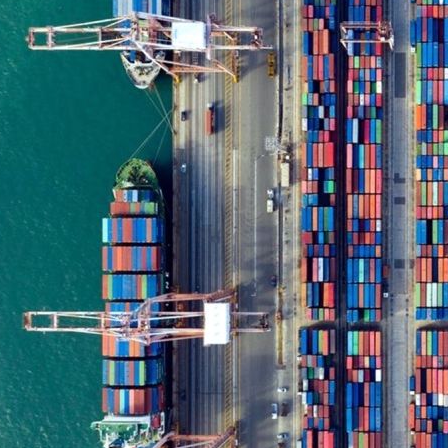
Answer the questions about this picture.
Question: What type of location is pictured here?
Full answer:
This looks like a port.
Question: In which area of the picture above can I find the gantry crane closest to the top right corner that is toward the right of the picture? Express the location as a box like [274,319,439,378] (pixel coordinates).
[340,26,393,60]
